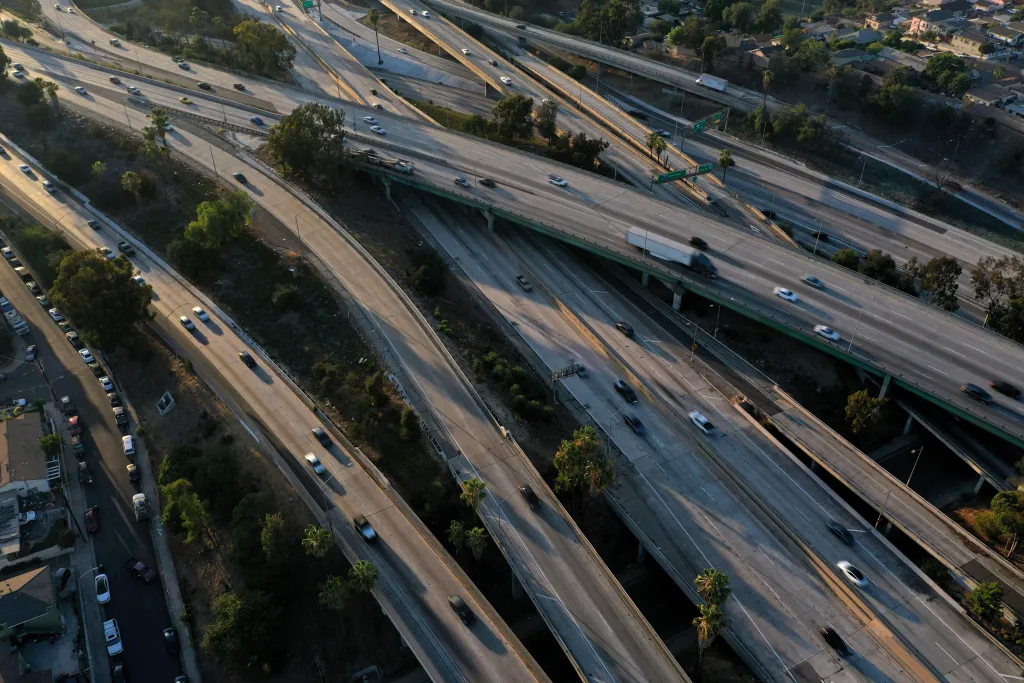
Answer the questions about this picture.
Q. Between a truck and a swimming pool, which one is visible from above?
truck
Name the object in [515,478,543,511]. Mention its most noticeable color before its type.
black car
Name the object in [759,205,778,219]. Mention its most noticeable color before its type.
black car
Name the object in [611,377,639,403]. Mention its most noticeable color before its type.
black truck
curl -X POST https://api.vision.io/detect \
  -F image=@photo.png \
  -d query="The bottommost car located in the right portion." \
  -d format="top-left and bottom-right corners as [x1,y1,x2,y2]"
[814,619,857,663]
